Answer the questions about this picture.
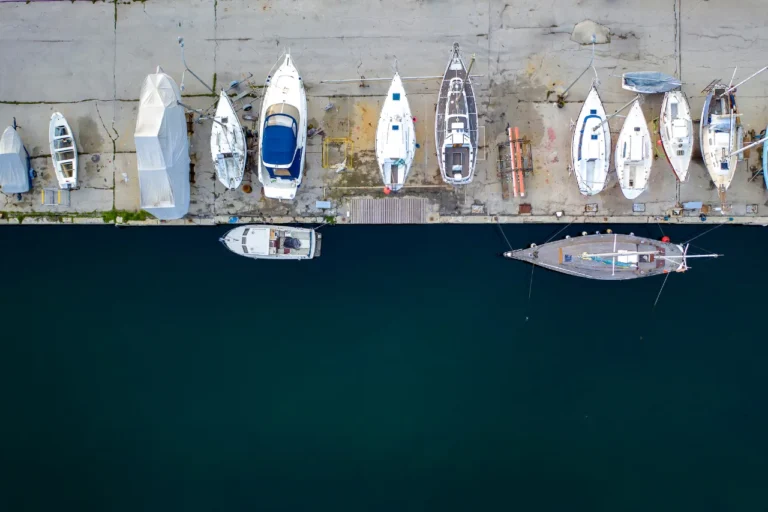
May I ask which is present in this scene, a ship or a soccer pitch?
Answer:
ship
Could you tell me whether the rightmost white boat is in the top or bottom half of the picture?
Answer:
top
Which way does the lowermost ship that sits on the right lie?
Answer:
horizontally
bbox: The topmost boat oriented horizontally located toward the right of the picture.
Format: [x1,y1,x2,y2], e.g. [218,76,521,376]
[614,73,683,94]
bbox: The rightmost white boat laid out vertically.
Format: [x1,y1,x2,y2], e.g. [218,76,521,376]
[698,65,768,214]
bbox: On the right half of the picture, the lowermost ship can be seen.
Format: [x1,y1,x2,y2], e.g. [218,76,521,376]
[497,218,722,312]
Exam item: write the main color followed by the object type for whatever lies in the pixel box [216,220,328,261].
white boat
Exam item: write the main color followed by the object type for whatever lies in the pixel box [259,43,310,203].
white boat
